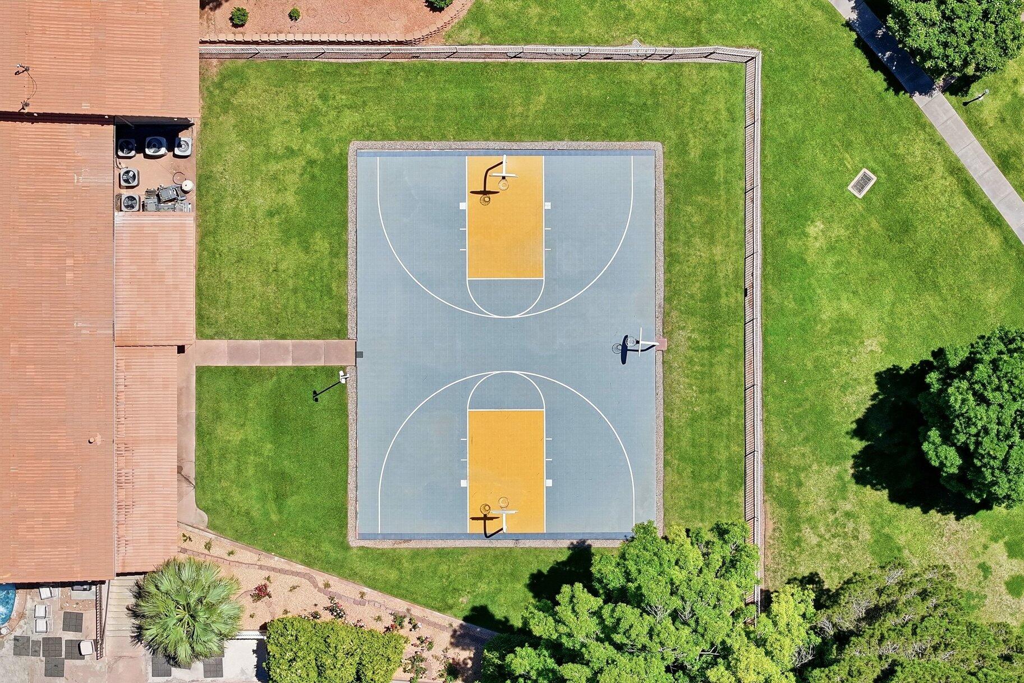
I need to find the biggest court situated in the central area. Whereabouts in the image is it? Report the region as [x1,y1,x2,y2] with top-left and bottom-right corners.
[357,150,656,539]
